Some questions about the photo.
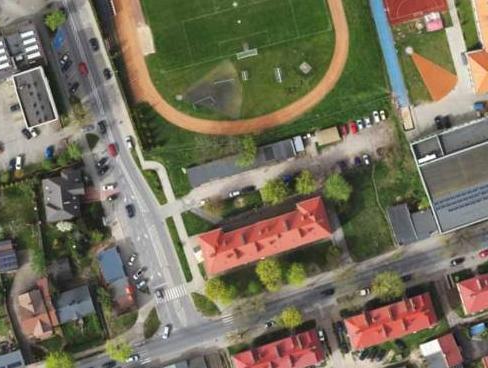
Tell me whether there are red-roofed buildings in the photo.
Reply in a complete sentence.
Yes, this view includes a red-roofed building.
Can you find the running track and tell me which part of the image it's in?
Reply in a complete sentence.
The running track is in the top part of the image.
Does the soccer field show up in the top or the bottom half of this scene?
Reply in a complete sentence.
The soccer field is in the top half of the image.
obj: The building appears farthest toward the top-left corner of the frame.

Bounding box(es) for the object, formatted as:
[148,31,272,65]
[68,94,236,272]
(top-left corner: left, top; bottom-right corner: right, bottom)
[0,25,48,84]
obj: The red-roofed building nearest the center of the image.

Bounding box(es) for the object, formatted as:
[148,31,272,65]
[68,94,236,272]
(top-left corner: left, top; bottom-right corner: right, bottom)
[197,197,333,278]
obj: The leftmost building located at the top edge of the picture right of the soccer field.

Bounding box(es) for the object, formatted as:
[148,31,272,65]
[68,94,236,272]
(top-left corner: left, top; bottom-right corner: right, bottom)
[423,9,444,31]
